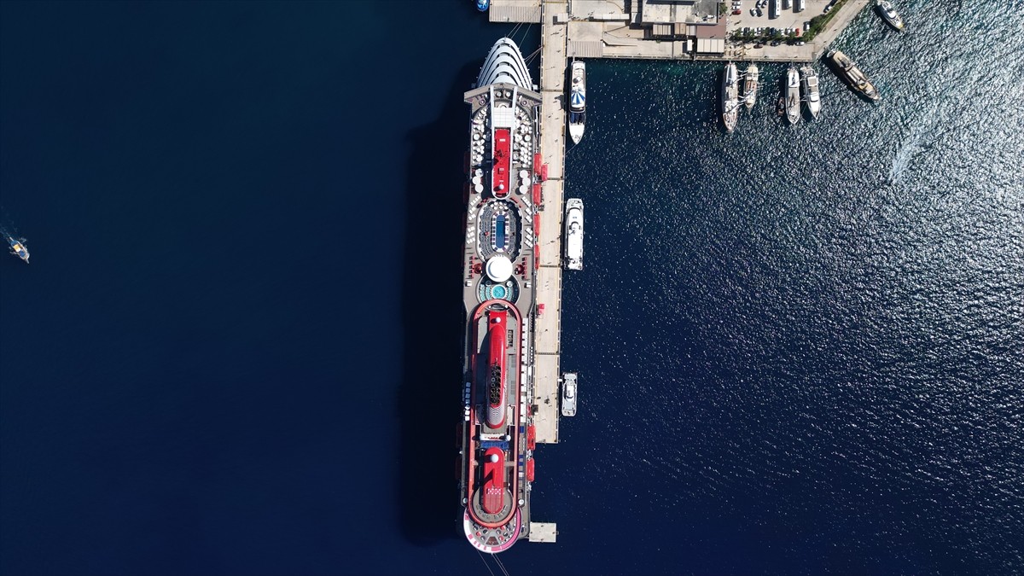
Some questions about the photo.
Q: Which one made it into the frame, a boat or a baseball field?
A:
boat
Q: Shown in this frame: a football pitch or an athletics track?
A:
athletics track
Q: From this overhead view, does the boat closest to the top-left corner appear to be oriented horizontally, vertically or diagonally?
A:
diagonally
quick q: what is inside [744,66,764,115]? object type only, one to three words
boat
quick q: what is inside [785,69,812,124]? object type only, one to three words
boat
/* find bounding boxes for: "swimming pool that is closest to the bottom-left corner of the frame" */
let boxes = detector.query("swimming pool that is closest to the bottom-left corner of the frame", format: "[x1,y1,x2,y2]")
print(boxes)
[489,284,509,299]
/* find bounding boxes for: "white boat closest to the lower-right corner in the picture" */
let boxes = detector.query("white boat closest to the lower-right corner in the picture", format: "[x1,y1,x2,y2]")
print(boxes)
[561,372,577,417]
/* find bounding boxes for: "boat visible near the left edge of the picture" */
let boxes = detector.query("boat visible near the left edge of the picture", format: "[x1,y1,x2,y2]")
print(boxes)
[9,237,30,265]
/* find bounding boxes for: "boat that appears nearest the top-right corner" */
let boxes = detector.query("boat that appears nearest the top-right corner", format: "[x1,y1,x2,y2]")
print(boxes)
[871,0,906,32]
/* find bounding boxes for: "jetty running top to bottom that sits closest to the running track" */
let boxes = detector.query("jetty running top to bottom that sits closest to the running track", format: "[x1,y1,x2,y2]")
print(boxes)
[535,0,569,443]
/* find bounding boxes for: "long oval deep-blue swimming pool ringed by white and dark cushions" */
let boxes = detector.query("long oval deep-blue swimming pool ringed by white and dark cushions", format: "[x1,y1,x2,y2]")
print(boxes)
[491,211,510,253]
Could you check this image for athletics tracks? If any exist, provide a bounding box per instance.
[470,300,521,524]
